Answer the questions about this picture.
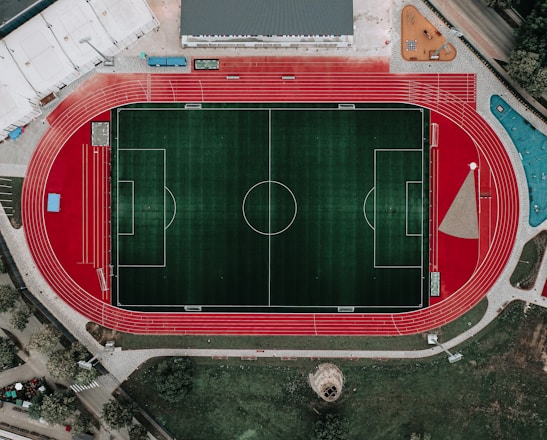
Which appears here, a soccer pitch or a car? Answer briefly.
soccer pitch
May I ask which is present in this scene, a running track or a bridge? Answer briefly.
running track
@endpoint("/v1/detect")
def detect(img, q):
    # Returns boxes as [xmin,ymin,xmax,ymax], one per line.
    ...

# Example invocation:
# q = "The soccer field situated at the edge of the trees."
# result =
[111,102,429,312]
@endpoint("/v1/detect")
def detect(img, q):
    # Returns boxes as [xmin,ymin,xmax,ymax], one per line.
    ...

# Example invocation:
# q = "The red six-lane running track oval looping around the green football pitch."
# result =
[21,56,521,335]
